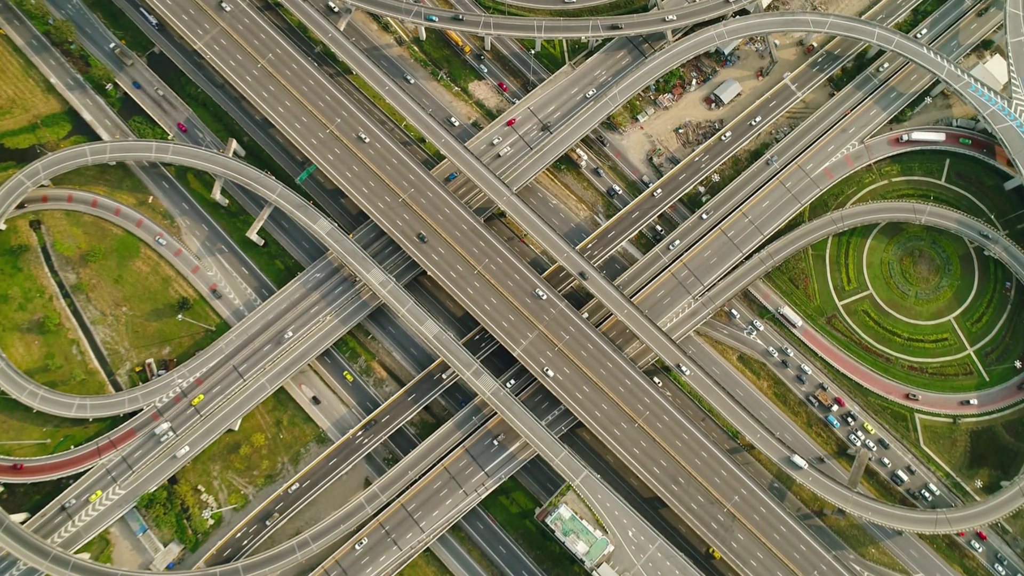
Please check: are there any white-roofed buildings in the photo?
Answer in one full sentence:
Yes, the image includes a white-roofed building.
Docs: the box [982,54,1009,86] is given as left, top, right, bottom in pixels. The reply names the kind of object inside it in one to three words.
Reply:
building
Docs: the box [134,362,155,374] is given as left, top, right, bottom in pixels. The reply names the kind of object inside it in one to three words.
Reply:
vehicle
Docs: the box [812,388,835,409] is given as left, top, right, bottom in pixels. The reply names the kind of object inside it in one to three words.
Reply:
truck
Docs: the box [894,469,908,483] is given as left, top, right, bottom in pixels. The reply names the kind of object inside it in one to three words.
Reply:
vehicle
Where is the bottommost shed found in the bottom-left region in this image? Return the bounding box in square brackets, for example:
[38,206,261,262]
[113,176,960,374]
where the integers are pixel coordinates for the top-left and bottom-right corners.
[150,540,184,572]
